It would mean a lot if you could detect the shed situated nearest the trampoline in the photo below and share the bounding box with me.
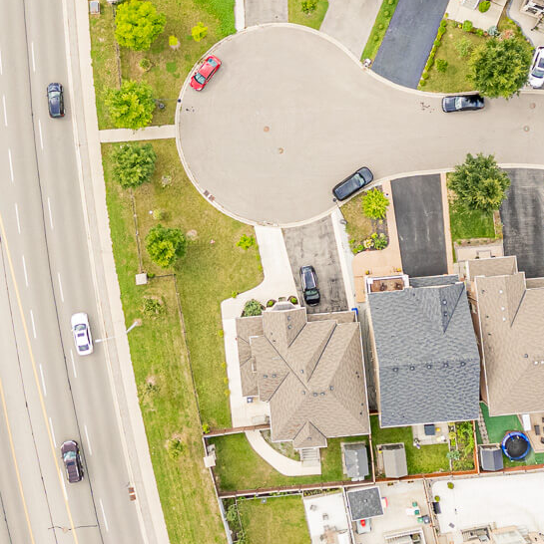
[478,445,503,471]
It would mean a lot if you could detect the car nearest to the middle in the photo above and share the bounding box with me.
[299,263,321,305]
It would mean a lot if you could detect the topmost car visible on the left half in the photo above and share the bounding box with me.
[190,54,221,91]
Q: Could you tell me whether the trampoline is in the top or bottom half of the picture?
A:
bottom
